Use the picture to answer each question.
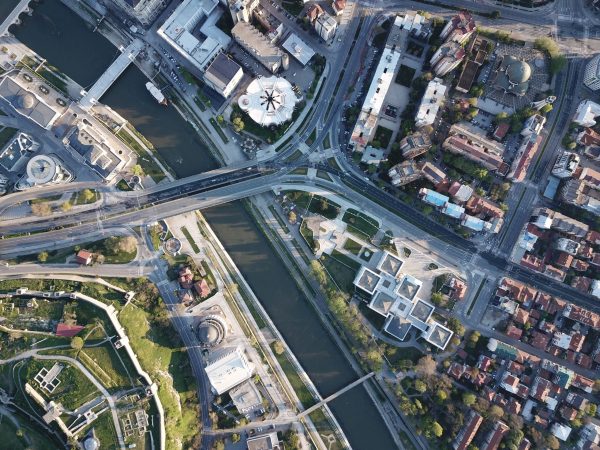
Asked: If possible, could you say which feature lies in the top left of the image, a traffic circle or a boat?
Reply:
boat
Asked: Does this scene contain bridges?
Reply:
Yes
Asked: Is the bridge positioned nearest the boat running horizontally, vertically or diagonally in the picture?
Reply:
diagonally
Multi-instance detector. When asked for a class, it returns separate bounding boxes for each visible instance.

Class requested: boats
[144,80,168,106]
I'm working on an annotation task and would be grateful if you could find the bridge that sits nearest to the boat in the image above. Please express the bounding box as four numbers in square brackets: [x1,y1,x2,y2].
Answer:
[77,40,146,114]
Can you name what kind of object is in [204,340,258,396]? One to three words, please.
building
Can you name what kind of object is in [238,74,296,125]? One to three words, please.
building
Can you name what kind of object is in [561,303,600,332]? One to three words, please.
house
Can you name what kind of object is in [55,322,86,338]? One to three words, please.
shed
